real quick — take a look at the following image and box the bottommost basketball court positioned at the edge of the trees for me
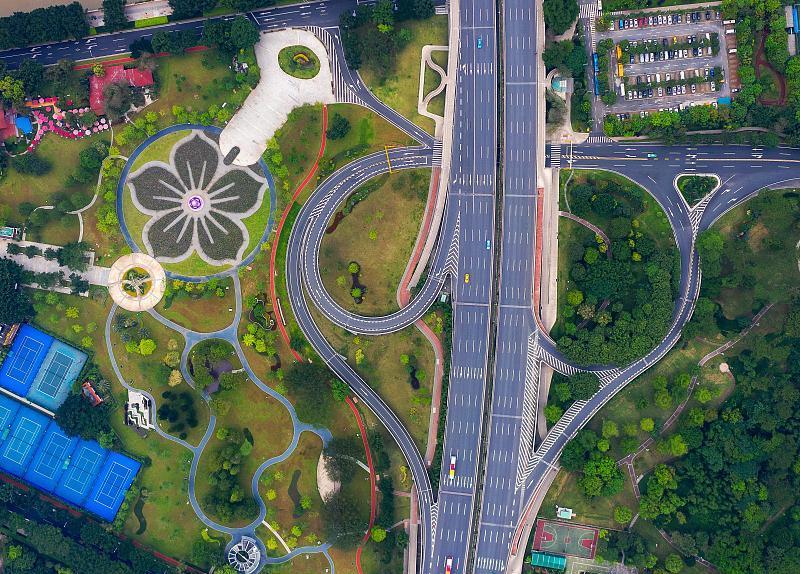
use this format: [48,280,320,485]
[533,520,599,559]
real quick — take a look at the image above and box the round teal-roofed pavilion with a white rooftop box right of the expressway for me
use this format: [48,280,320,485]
[548,76,571,92]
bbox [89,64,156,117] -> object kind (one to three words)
building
